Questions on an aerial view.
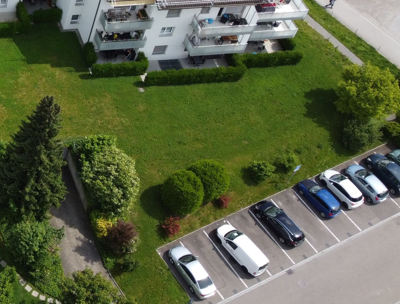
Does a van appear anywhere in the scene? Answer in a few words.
Yes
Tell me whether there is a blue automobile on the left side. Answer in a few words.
No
